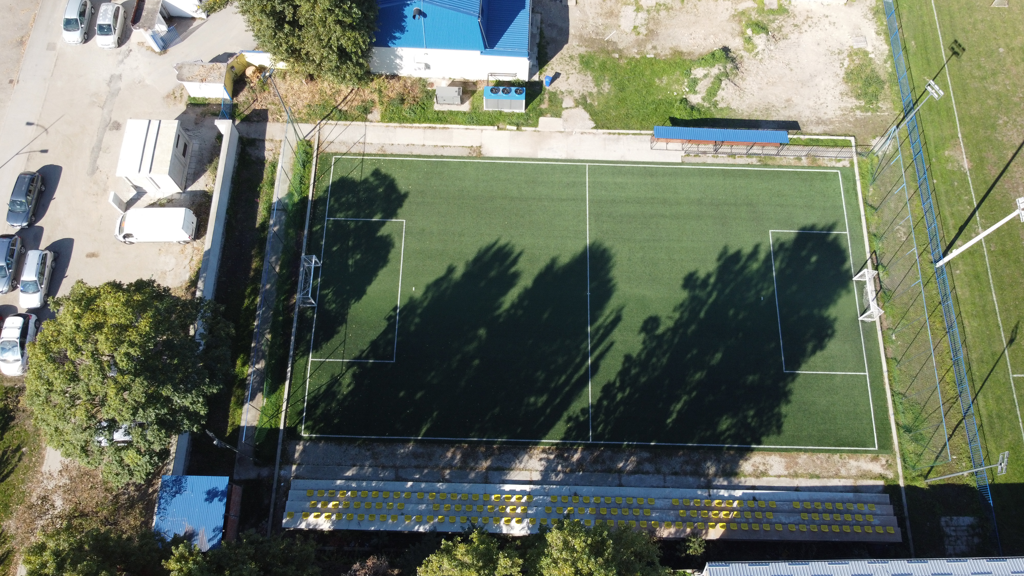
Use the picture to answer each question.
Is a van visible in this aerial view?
Yes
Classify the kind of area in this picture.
sports ground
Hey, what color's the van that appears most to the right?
white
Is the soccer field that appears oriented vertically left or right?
right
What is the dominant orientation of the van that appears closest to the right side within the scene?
from side to side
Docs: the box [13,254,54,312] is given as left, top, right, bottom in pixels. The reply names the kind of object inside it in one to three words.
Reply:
car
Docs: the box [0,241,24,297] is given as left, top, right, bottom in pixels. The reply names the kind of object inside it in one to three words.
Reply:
car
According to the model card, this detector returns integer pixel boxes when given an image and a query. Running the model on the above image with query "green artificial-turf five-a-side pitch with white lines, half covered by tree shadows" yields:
[284,153,891,459]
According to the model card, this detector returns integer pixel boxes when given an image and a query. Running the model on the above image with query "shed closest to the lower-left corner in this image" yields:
[151,475,243,551]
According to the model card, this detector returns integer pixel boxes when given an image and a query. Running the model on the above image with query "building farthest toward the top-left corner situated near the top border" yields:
[128,0,171,47]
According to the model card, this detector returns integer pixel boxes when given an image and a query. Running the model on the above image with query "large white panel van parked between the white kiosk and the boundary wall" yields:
[113,209,197,245]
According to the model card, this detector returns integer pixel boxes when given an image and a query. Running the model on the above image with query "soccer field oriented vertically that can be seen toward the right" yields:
[890,0,1024,563]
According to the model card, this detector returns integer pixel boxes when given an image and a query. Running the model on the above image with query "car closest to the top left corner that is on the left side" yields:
[57,0,93,45]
